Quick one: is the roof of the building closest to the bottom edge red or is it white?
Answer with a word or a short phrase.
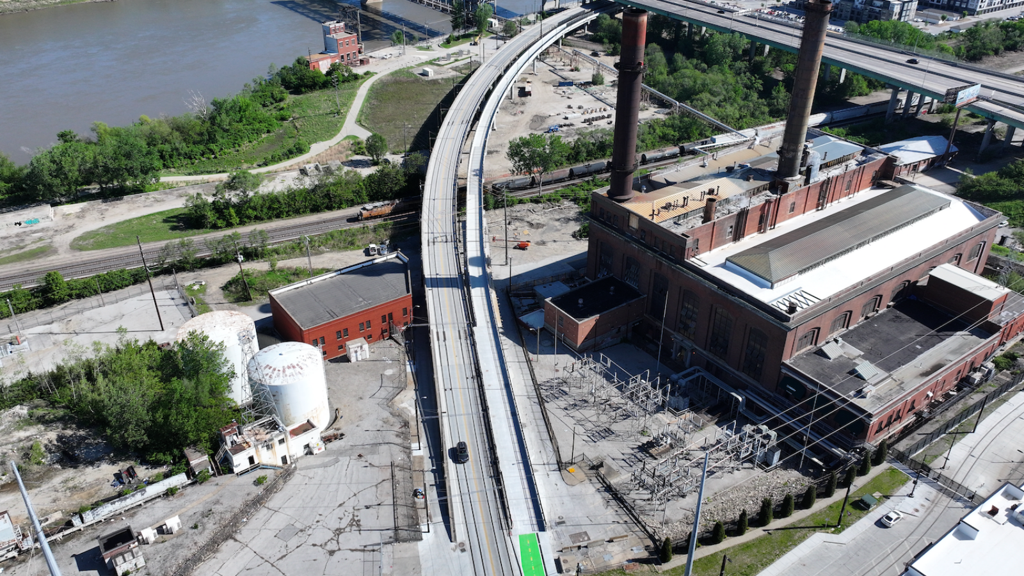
white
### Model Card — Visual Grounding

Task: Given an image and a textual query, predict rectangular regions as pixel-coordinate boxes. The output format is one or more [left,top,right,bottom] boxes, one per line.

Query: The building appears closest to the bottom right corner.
[899,479,1024,576]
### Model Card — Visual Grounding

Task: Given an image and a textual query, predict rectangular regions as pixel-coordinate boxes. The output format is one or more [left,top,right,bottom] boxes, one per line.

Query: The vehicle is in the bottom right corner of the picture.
[879,509,908,531]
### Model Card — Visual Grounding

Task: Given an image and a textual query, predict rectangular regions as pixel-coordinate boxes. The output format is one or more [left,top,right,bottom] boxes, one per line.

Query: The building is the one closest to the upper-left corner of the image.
[308,19,377,68]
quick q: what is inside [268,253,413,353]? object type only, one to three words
building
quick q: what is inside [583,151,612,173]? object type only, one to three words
rail car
